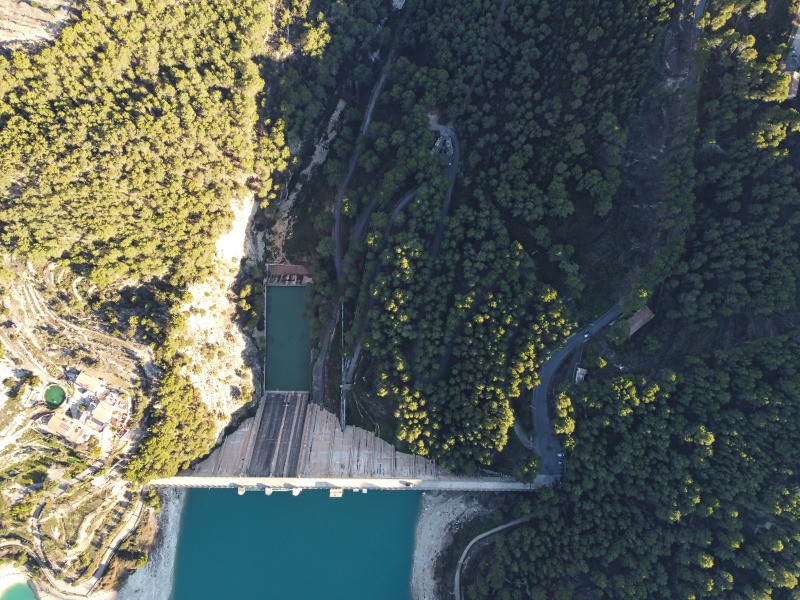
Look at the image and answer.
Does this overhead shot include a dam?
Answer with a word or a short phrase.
Yes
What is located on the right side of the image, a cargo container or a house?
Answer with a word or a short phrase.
house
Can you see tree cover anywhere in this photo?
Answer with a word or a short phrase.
Yes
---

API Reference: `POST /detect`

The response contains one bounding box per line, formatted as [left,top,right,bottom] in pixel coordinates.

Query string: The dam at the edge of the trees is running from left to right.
[148,391,548,498]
